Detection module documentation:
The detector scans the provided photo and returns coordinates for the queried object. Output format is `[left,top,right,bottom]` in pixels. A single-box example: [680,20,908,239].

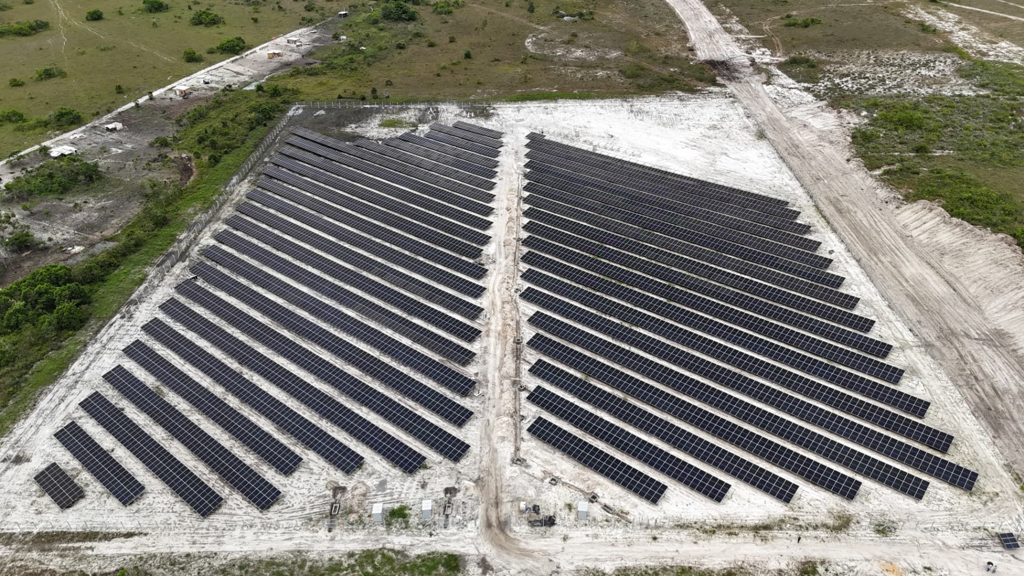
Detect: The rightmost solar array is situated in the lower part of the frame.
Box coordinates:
[999,532,1020,550]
